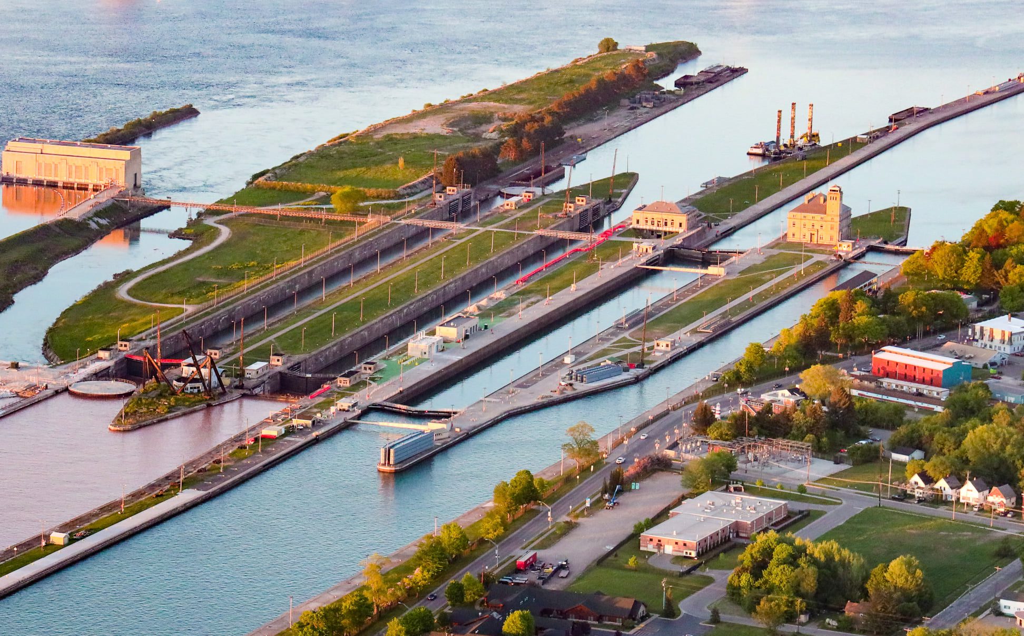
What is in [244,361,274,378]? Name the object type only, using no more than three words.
shed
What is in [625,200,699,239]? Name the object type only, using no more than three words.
building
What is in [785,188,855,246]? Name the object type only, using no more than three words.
building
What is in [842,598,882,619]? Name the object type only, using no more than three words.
house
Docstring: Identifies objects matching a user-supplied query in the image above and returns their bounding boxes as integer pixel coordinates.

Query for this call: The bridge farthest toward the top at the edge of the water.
[115,186,390,222]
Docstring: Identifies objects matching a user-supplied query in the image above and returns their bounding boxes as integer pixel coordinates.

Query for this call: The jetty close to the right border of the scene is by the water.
[661,76,1024,258]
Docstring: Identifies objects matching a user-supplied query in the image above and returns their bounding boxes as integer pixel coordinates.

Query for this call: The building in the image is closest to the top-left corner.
[0,138,141,191]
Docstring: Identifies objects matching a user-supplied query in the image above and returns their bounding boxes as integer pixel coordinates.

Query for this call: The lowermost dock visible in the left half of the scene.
[0,223,702,598]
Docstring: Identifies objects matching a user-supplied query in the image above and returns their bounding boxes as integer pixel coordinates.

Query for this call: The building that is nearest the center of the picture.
[434,315,487,341]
